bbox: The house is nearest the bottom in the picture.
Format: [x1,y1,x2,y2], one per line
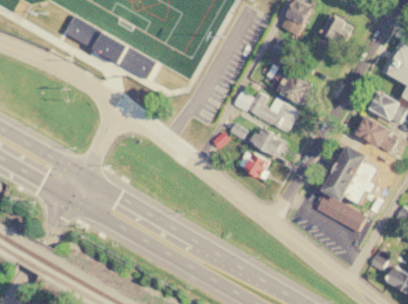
[384,266,408,288]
